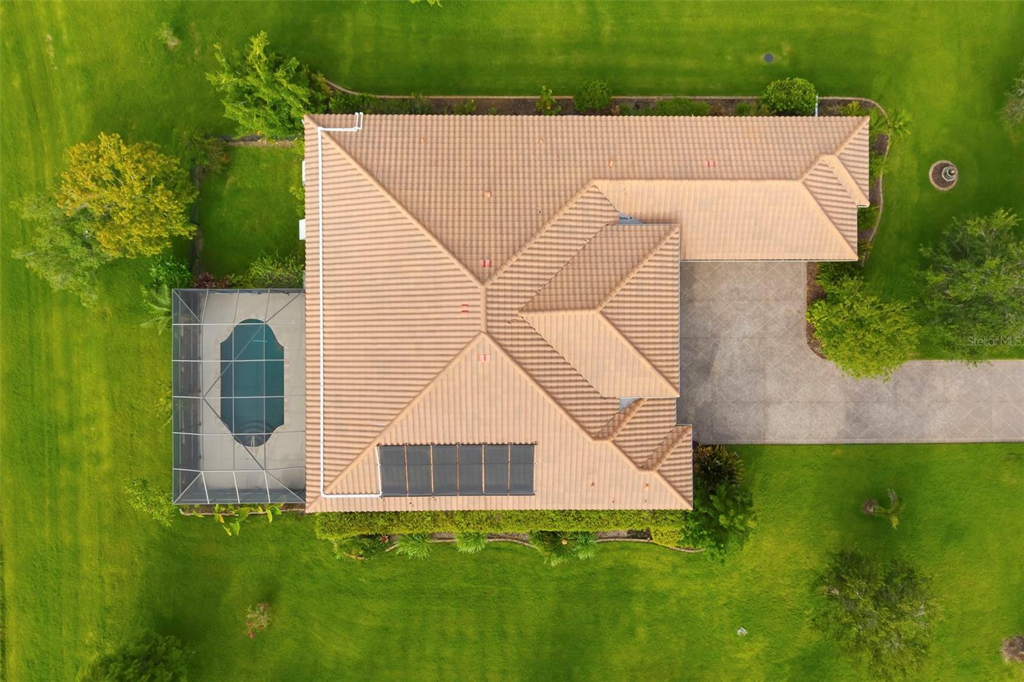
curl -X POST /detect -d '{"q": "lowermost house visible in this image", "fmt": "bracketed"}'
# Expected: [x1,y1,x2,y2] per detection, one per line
[302,113,872,514]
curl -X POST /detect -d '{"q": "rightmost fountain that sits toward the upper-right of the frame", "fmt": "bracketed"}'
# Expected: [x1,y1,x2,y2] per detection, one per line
[941,166,959,181]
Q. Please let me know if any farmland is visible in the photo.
No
